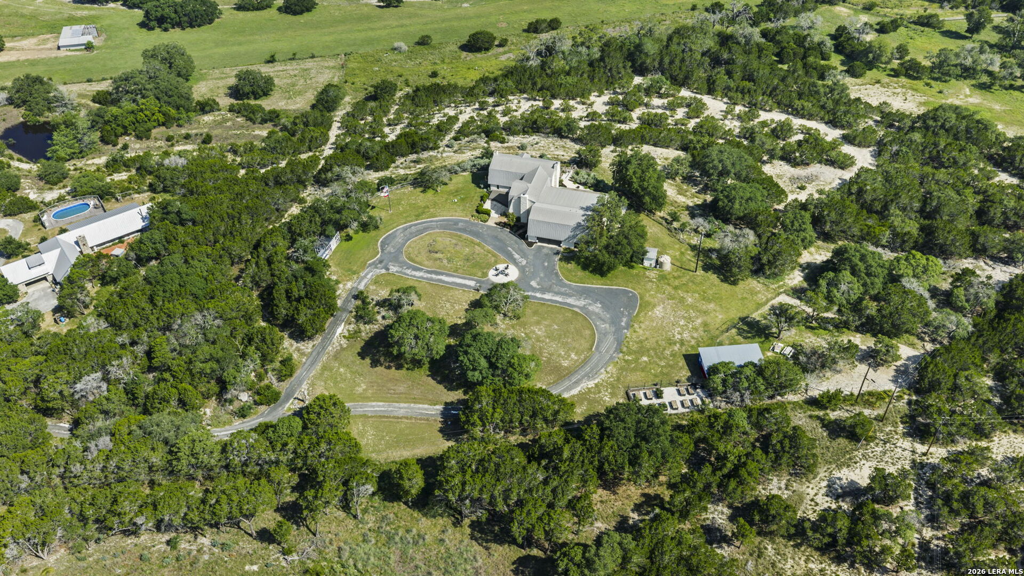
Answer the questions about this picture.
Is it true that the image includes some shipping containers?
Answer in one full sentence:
No, no shipping container is visible in the scene.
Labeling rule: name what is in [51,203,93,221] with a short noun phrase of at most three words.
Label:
swimming pool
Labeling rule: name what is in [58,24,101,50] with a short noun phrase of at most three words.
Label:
barn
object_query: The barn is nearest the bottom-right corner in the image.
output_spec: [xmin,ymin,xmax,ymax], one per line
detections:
[697,342,768,383]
